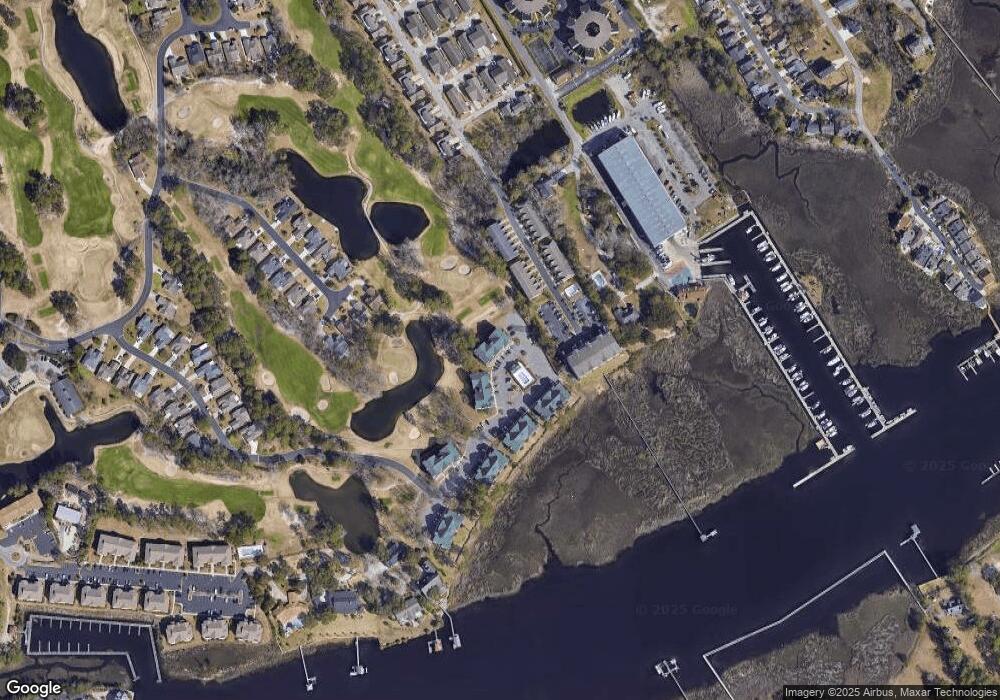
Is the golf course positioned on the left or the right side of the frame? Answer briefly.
left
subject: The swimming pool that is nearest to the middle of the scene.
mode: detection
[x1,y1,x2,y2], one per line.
[514,366,535,388]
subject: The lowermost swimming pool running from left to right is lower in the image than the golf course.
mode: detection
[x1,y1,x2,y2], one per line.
[238,545,264,558]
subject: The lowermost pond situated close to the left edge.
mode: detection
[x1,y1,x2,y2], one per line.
[0,396,139,508]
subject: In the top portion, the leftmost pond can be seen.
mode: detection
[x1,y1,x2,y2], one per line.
[53,0,128,134]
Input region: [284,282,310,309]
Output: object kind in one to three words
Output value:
house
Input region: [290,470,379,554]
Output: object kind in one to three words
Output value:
pond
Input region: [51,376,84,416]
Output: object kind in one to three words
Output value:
building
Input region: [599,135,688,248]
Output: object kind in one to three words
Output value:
building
